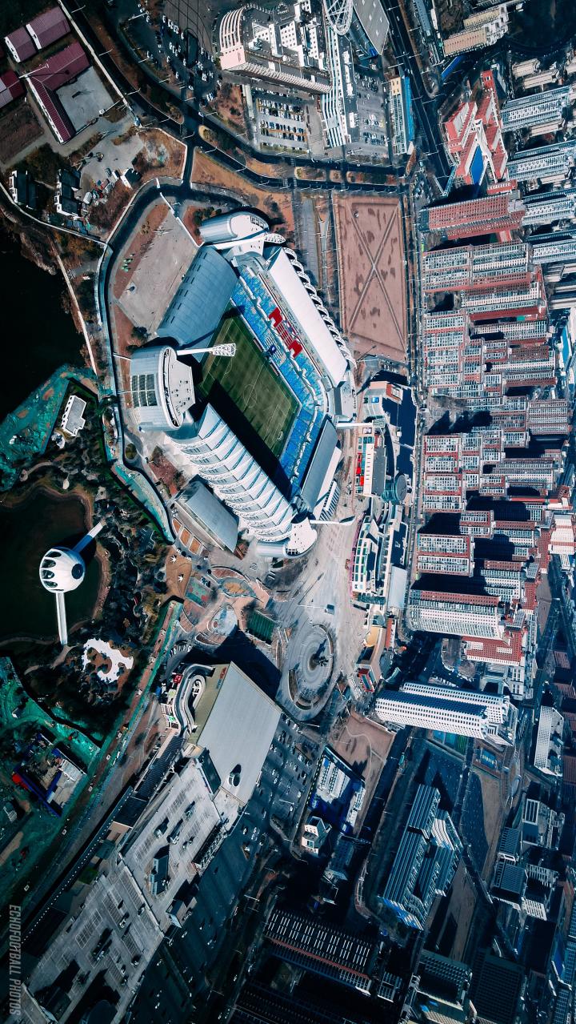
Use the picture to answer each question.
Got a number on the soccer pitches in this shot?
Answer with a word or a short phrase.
one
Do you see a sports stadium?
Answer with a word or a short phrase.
Yes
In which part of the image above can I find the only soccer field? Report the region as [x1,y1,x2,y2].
[195,304,299,480]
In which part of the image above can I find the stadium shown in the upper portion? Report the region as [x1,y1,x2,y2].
[126,210,356,559]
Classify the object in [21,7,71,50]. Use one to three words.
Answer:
shed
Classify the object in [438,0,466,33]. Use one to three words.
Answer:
building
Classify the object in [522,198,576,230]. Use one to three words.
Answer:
building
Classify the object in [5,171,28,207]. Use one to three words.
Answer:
house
